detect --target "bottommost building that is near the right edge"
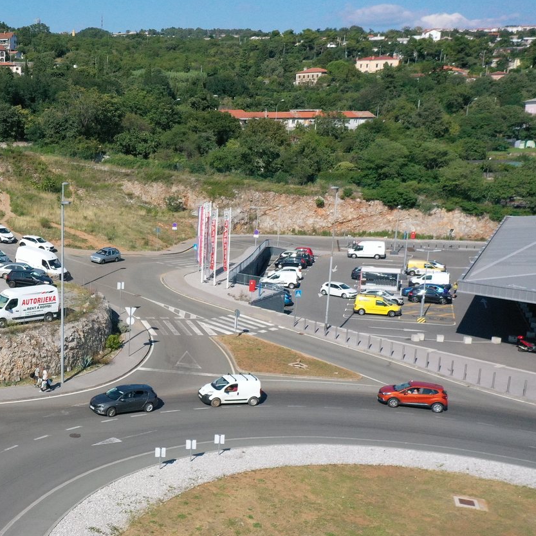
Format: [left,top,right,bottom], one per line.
[454,215,536,311]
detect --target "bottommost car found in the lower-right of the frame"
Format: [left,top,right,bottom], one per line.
[379,381,452,412]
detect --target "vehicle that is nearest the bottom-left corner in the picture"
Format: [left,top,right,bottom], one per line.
[91,384,161,416]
